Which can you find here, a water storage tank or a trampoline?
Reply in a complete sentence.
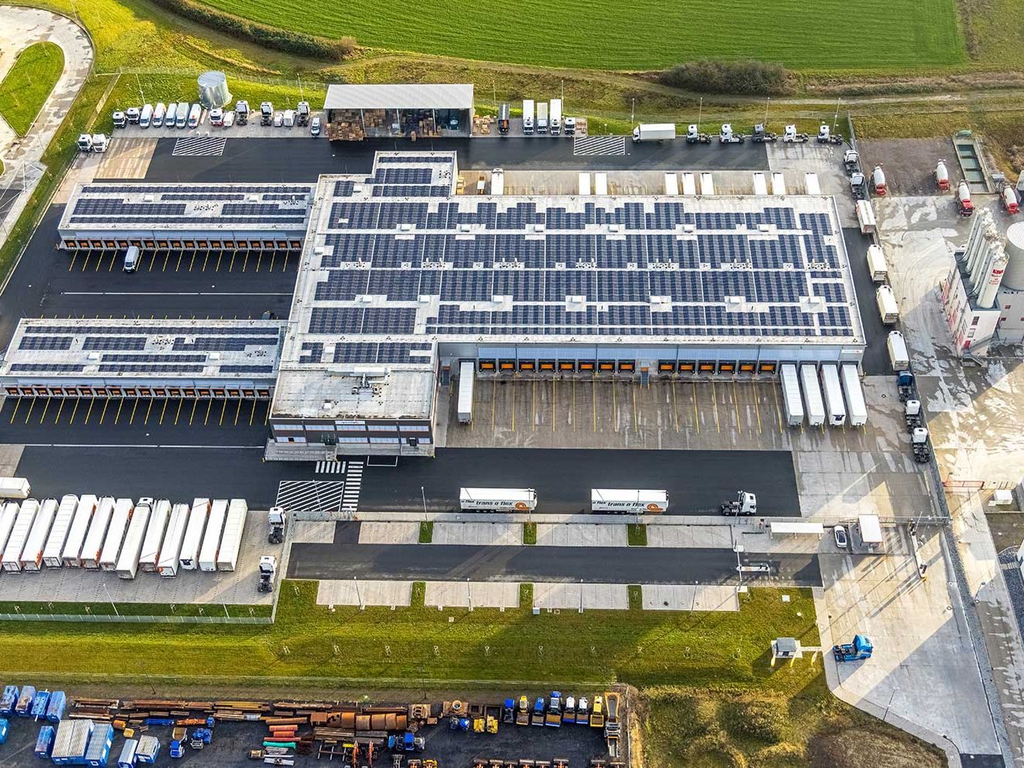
The one in the frame is a water storage tank.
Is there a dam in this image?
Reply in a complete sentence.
No, I can't see a single dam in this photo.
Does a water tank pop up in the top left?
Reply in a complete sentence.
Yes, looking in the top left, one can make out a water tank.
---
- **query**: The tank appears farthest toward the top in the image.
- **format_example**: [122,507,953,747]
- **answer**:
[198,68,234,106]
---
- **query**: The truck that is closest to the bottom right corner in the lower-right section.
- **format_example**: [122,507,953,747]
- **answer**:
[836,635,877,660]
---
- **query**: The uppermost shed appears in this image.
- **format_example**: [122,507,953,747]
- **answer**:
[322,82,475,136]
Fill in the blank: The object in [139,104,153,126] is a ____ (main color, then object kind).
white vehicle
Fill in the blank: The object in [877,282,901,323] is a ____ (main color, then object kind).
white truck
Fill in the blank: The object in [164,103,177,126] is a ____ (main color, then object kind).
white vehicle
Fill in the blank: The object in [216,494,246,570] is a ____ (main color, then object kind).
white trailer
